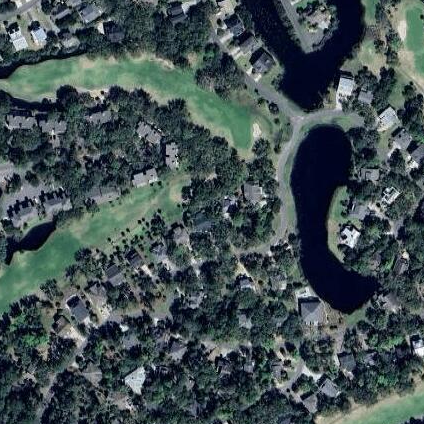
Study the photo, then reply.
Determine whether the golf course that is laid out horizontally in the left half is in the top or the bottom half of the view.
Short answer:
top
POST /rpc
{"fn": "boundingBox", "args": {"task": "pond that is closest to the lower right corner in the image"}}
[291,125,379,312]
